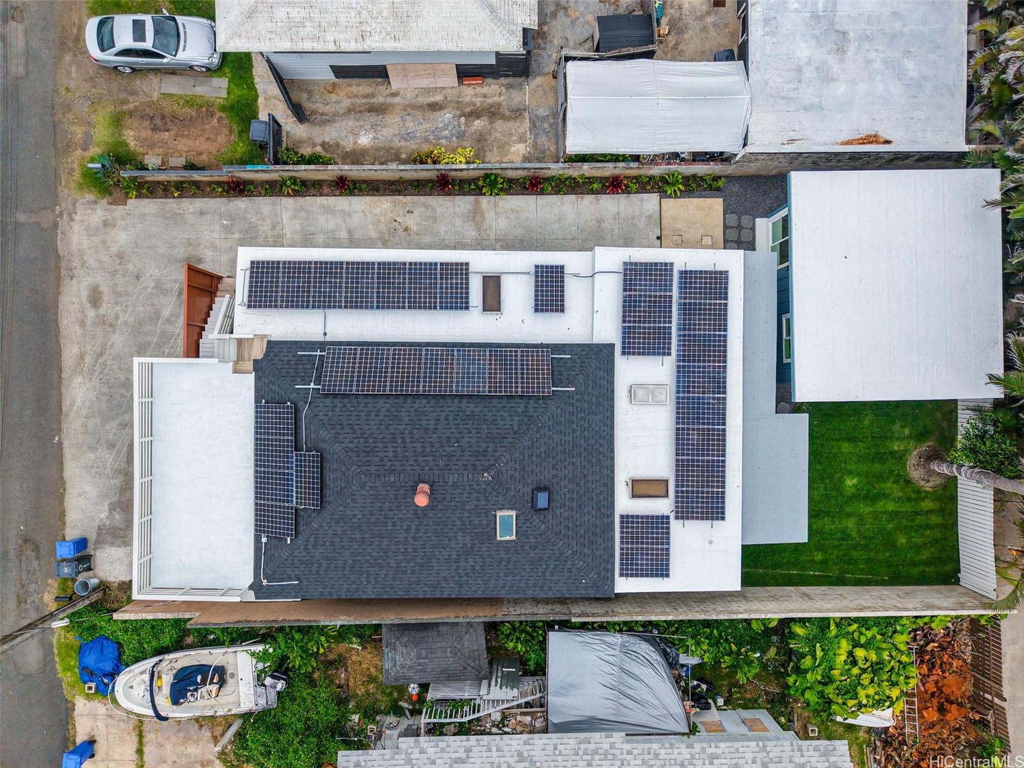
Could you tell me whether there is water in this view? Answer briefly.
No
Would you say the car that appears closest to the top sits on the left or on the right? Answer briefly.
left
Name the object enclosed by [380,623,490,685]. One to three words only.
shed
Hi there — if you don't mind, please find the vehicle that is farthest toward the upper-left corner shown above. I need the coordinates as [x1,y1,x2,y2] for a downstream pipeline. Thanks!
[86,1,226,72]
